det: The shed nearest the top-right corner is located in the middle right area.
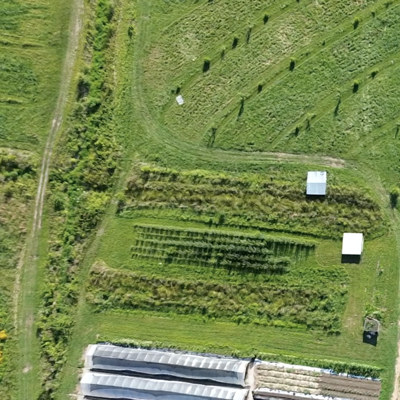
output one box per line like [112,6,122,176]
[307,171,327,196]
